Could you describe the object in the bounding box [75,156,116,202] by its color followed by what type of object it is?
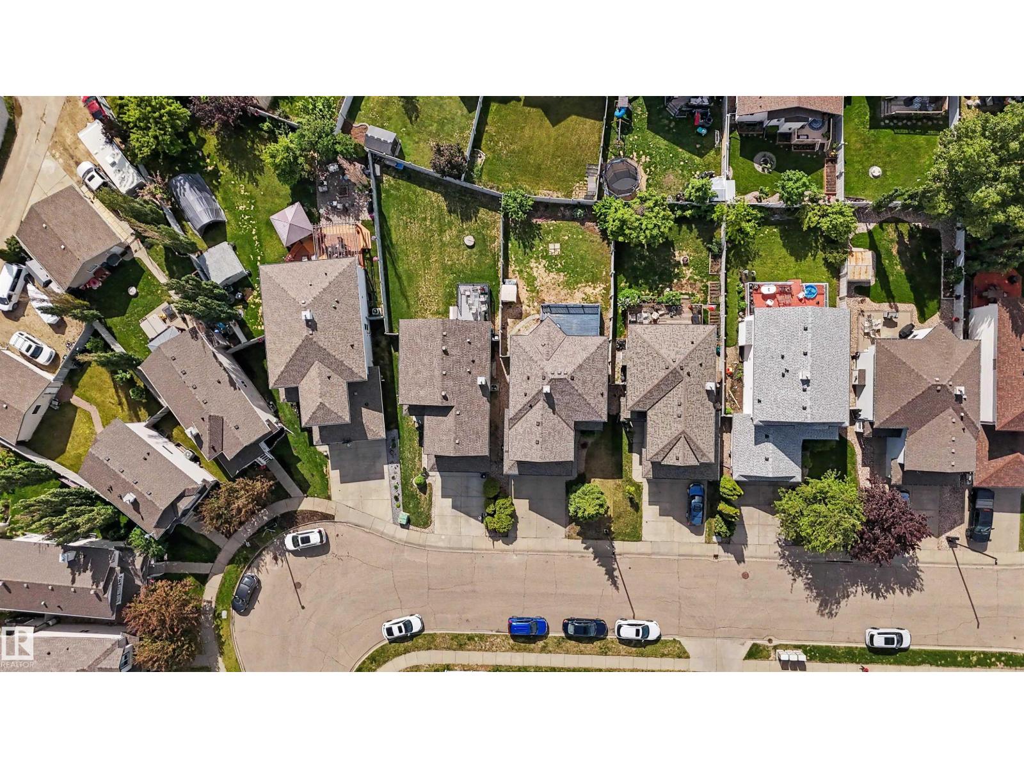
white car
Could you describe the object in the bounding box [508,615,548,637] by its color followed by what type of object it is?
blue car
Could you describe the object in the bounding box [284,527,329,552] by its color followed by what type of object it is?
white car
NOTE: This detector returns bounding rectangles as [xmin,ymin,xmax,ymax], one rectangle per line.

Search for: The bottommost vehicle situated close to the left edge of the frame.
[9,333,58,364]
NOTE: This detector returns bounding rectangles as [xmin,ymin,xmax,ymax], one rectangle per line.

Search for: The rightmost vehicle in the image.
[966,487,993,540]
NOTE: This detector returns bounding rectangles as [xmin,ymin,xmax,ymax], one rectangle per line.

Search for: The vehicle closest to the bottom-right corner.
[864,626,910,649]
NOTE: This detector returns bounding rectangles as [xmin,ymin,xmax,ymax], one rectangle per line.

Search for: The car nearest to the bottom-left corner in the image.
[234,570,262,613]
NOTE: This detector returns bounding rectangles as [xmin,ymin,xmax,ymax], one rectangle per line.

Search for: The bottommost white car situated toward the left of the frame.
[380,613,425,641]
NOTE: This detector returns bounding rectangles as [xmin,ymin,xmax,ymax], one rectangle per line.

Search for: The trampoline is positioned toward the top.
[604,163,640,197]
